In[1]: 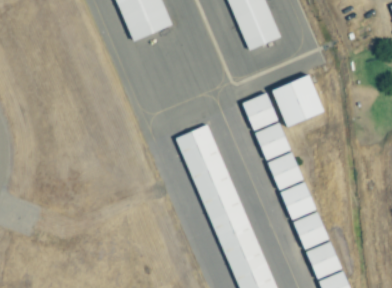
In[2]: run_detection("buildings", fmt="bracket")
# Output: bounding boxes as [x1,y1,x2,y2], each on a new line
[242,94,278,131]
[256,123,290,160]
[268,153,304,190]
[282,182,316,220]
[176,124,279,288]
[228,0,282,50]
[272,75,324,127]
[116,0,173,41]
[320,272,350,288]
[307,242,342,279]
[294,212,329,250]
